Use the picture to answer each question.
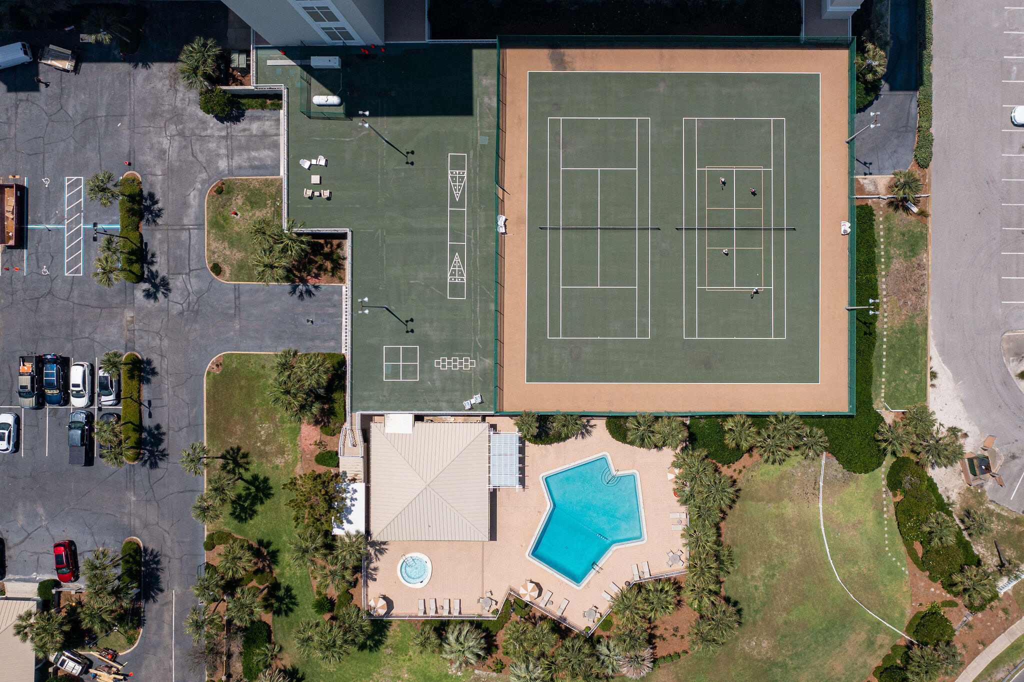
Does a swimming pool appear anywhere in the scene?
Yes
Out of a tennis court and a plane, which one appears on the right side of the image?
tennis court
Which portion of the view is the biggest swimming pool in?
bottom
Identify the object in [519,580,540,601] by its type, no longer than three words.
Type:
umbrella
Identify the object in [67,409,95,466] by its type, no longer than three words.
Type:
truck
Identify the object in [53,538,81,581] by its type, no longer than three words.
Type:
car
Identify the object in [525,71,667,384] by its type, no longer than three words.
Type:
tennis court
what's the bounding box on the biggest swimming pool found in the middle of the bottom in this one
[527,453,647,588]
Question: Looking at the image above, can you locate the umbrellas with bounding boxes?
[665,464,682,485]
[368,595,388,616]
[519,580,540,601]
